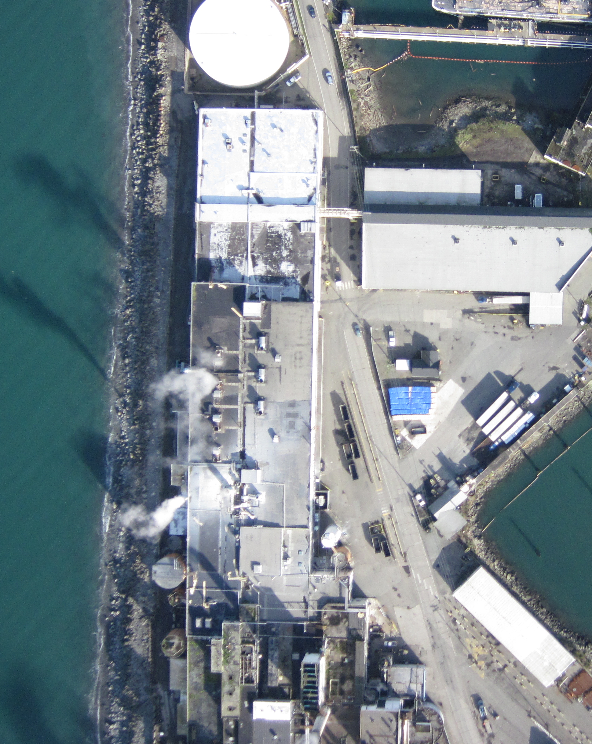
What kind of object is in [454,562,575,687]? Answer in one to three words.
warehouse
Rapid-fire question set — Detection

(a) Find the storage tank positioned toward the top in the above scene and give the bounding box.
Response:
[190,0,294,91]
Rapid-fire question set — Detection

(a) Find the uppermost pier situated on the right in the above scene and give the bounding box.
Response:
[333,8,592,50]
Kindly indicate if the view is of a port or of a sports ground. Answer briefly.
port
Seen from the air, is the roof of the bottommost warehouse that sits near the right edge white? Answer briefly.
Yes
